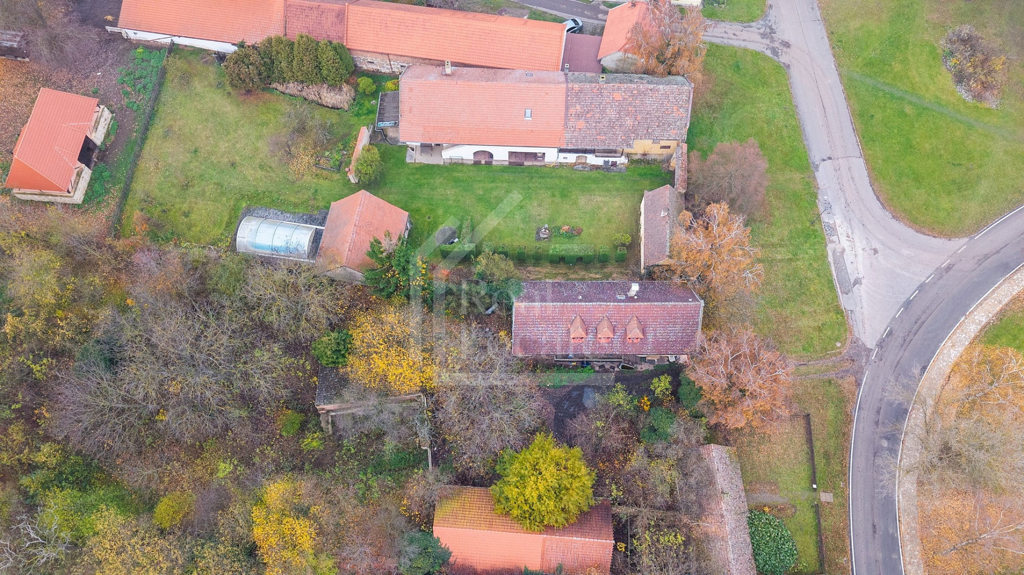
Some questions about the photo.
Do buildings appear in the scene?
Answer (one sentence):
Yes, the picture does show a building.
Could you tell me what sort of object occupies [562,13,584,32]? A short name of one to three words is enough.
car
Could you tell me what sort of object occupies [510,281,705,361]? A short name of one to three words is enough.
house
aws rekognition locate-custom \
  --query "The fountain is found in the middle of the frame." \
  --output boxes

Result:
[534,221,553,242]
